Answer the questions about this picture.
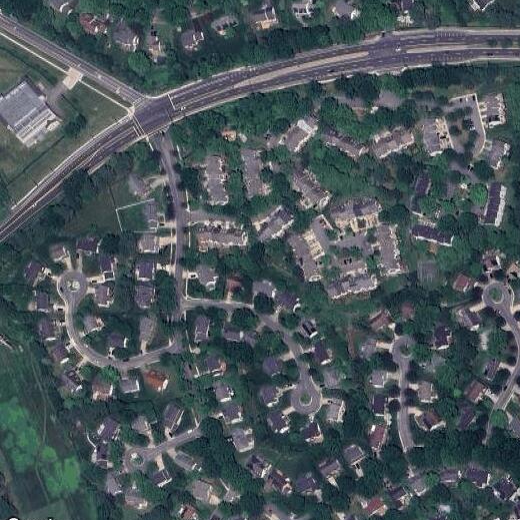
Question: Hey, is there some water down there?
No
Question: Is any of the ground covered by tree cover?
Yes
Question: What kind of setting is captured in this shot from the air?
residential area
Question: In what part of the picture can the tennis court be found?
right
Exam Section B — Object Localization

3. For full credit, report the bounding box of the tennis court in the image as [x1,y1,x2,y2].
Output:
[418,260,439,285]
